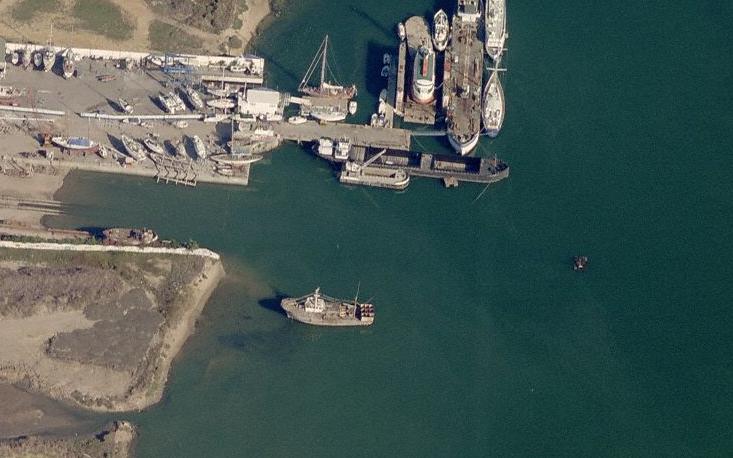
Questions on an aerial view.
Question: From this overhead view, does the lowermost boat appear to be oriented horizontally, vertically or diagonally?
horizontally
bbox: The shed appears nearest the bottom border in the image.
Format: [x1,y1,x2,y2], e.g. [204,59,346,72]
[238,89,280,118]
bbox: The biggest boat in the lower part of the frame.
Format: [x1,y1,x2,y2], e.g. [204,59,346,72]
[283,278,374,324]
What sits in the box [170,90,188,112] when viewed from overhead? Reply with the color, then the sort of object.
white boat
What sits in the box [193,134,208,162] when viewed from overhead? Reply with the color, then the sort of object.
white boat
